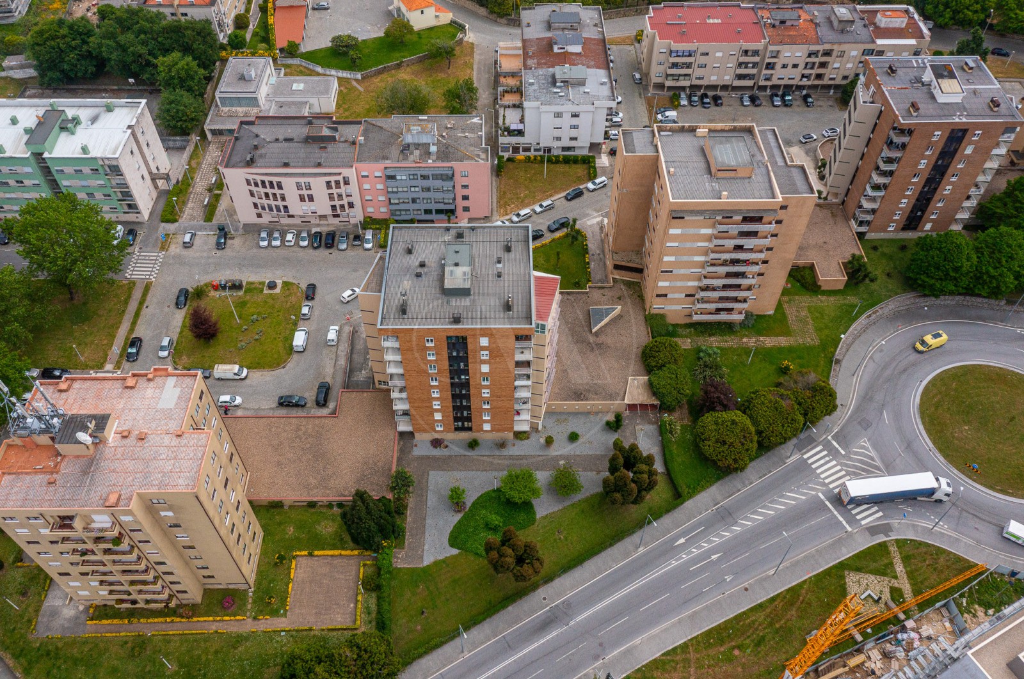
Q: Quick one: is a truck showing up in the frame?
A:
Yes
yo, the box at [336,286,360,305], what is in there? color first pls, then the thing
white car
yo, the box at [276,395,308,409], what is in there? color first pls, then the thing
black car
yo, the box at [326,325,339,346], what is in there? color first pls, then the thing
white vehicle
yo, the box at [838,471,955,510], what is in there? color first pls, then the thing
white truck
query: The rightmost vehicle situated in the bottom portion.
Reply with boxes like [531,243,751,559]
[1001,517,1024,552]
